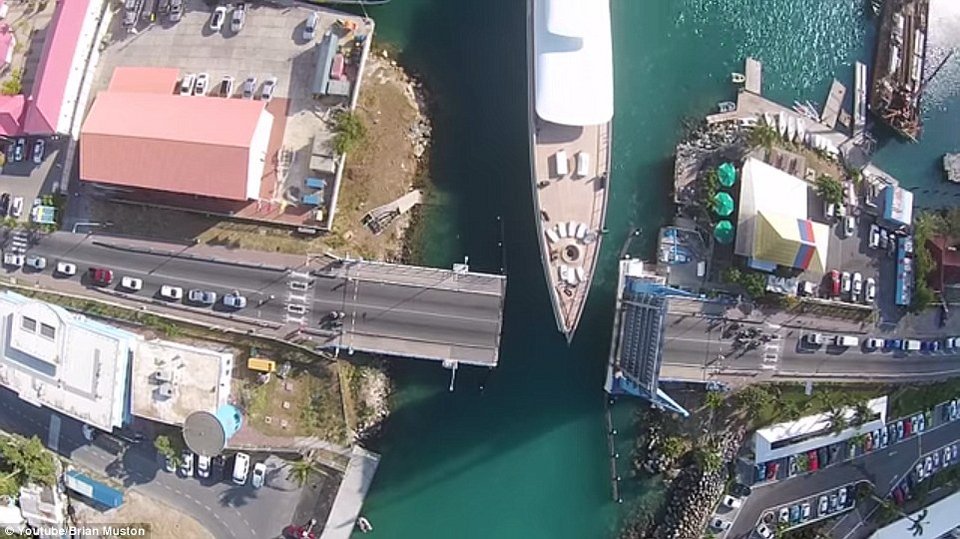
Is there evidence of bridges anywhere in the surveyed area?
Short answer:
Yes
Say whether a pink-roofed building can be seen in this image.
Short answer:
Yes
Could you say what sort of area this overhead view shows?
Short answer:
port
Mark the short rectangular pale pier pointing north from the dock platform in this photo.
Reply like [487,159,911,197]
[742,57,762,95]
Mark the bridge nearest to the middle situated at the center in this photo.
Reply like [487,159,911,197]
[338,259,507,367]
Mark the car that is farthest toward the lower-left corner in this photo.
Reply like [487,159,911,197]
[81,424,98,442]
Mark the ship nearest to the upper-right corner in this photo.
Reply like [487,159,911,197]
[865,0,952,143]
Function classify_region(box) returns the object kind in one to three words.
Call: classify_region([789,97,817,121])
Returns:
boat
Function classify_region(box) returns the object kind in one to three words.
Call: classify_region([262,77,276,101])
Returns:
vehicle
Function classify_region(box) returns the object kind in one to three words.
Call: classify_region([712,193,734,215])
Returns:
umbrella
